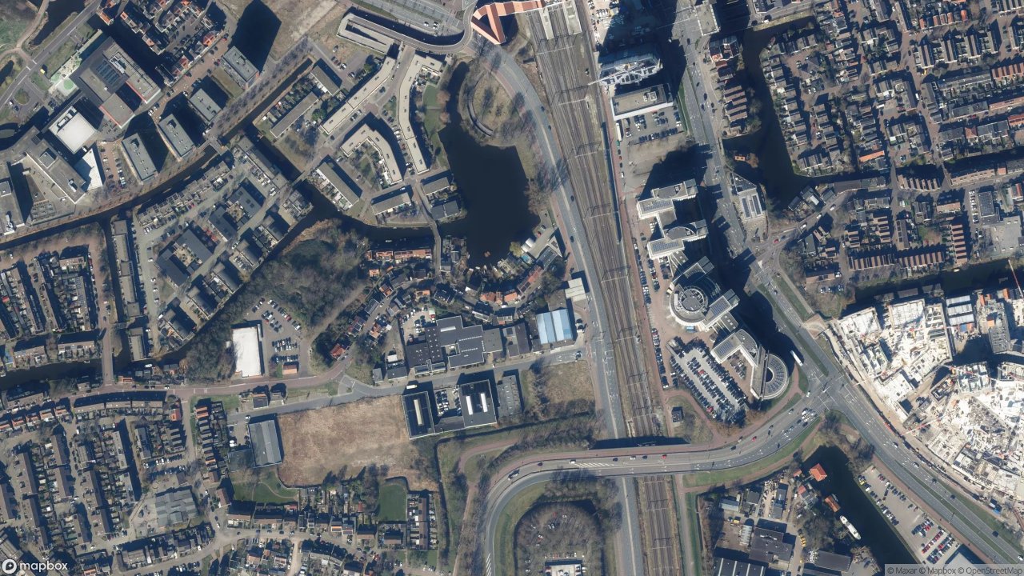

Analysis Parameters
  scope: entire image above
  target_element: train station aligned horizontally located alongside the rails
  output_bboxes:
[471,0,582,45]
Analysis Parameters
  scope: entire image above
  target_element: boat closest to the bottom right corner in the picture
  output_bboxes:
[843,514,860,538]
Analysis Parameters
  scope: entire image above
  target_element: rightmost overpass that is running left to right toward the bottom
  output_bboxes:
[472,401,814,576]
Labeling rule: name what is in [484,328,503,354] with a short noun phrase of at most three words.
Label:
building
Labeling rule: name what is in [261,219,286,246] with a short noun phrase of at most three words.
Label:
building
